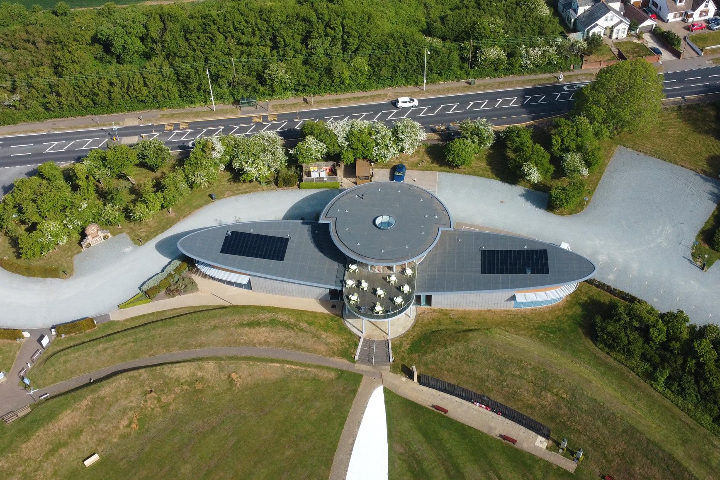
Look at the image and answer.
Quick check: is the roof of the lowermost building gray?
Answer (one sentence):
Yes, the roof of the lowermost building is gray.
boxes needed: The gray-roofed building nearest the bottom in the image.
[177,181,596,336]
